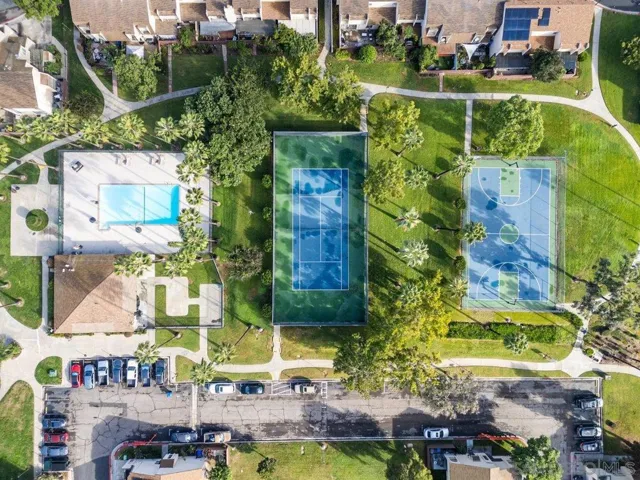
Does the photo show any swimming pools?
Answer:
Yes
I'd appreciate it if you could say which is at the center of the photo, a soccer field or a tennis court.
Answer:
tennis court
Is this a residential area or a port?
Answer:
residential area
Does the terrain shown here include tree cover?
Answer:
Yes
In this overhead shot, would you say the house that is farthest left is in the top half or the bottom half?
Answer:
top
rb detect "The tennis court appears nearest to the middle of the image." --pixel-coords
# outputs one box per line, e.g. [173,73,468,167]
[274,134,366,323]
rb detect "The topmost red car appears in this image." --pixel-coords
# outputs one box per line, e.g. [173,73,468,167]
[69,362,83,388]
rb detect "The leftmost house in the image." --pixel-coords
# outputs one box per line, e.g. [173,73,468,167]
[0,24,65,122]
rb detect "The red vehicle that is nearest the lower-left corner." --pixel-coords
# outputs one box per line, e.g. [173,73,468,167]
[44,431,71,444]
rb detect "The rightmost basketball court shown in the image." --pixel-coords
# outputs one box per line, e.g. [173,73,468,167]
[461,159,558,309]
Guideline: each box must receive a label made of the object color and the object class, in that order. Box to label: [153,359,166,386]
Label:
blue vehicle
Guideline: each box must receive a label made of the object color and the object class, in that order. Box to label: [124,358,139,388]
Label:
white vehicle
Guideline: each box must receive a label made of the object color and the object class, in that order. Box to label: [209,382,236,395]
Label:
white vehicle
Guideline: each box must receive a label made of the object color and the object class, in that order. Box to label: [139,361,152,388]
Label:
blue vehicle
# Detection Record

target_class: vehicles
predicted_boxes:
[139,361,152,388]
[293,382,318,395]
[44,431,71,444]
[69,362,83,388]
[575,425,603,439]
[209,382,236,395]
[42,416,69,430]
[111,358,124,384]
[422,426,449,439]
[172,429,199,442]
[204,429,232,443]
[124,358,139,388]
[574,397,603,411]
[41,444,69,458]
[239,382,265,395]
[43,457,71,471]
[82,362,97,390]
[153,359,166,386]
[96,358,111,387]
[577,439,602,454]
